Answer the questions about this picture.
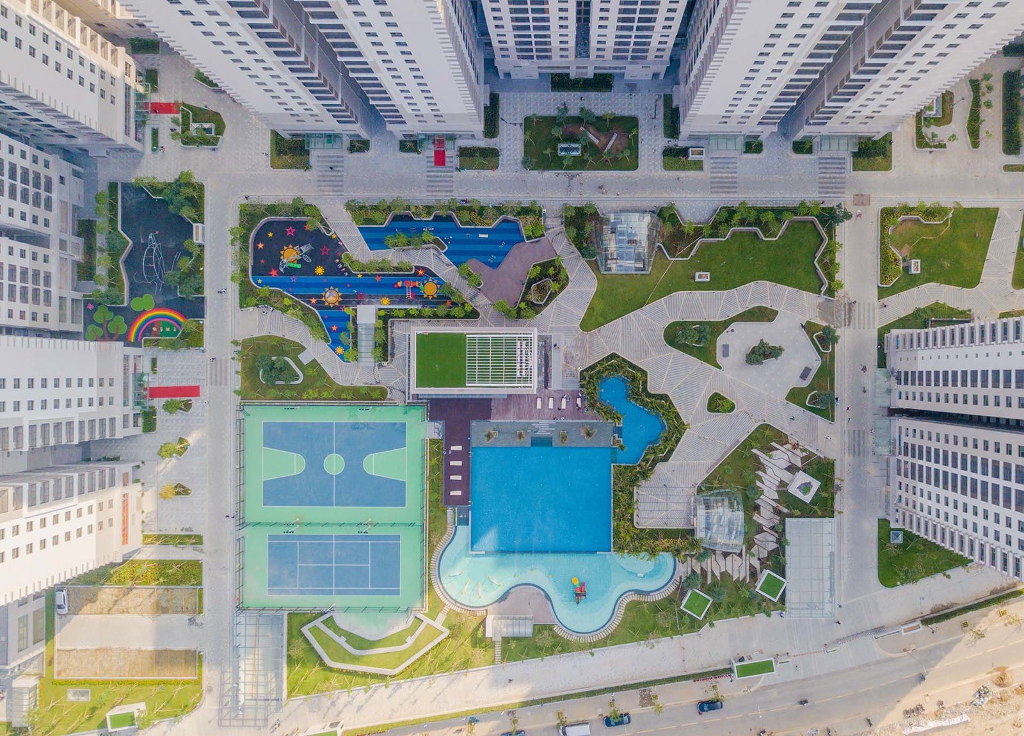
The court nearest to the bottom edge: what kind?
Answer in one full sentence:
The court nearest to the bottom edge in the image is a tennis court.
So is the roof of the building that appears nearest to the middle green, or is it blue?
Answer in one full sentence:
In this view, the roof of the building that appears nearest to the middle is green.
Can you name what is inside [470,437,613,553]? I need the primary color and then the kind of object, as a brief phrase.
blue swimming pool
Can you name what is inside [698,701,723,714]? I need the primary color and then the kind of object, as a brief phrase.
blue vehicle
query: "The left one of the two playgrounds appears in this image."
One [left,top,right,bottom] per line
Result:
[82,182,205,344]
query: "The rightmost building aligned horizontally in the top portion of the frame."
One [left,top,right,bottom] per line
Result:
[673,0,1024,141]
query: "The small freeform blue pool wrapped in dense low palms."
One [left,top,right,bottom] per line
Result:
[600,377,666,465]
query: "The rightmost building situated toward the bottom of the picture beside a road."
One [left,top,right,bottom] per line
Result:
[881,309,1024,596]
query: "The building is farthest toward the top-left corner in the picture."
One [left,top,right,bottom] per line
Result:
[0,0,150,156]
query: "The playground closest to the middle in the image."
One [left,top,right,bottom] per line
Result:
[250,221,454,363]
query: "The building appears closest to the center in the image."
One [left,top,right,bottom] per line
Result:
[411,327,538,398]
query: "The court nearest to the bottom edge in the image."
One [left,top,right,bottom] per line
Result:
[243,525,424,639]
